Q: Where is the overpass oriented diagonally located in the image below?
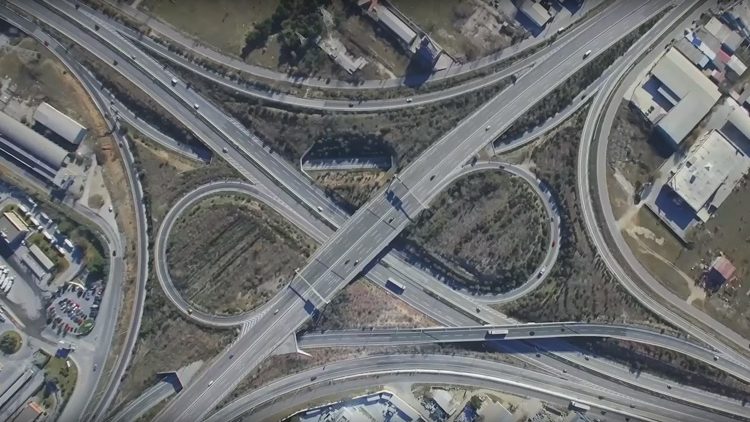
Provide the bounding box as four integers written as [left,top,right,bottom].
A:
[313,192,408,283]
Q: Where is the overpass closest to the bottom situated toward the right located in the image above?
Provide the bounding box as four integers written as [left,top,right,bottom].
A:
[439,323,576,341]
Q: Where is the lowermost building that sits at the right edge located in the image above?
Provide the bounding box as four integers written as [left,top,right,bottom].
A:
[707,256,735,281]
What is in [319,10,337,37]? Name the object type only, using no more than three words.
pylon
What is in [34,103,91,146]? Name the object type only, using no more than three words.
shed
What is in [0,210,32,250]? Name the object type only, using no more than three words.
building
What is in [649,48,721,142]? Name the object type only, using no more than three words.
building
